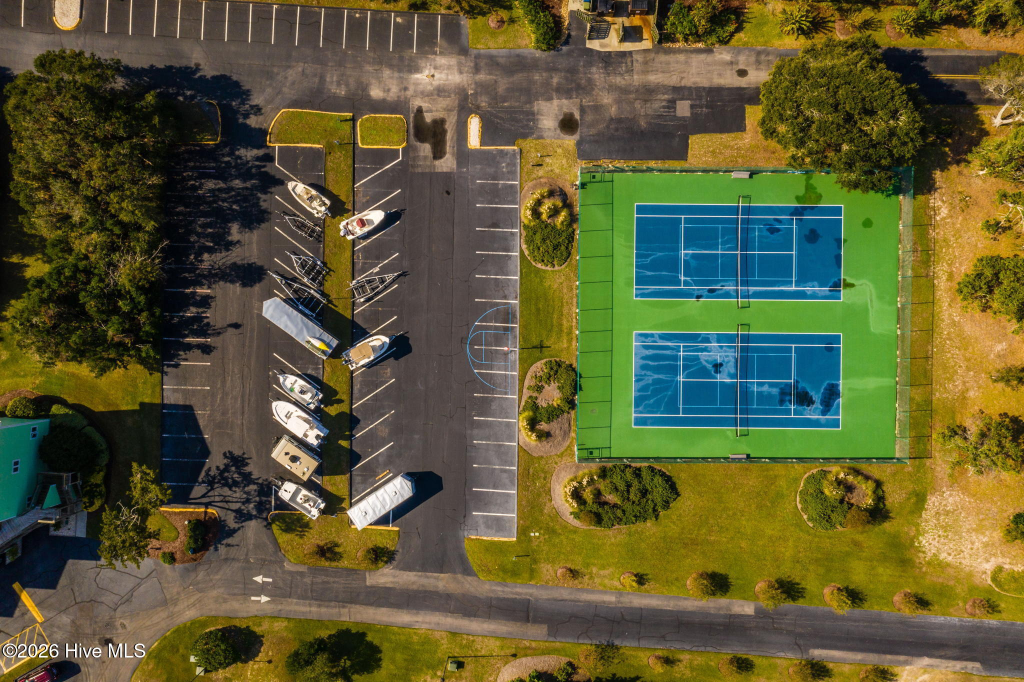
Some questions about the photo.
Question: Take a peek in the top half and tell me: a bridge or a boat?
boat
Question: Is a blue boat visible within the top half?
No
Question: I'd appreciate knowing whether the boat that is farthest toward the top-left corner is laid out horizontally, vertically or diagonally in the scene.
diagonally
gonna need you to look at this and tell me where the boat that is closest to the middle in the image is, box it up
[342,336,391,370]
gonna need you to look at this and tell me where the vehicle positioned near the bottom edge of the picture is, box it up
[20,661,64,682]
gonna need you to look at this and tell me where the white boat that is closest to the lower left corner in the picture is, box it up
[279,481,329,518]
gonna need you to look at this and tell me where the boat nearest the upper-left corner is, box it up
[287,180,332,217]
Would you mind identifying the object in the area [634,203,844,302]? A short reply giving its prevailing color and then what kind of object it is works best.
blue tennis court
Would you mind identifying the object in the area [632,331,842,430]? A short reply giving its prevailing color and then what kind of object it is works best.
blue tennis court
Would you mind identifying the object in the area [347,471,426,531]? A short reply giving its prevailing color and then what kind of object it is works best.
white trailer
